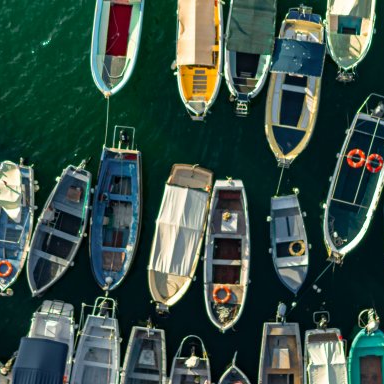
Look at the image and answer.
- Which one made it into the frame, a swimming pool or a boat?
boat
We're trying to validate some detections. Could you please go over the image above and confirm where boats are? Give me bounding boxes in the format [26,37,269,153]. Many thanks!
[345,309,384,384]
[121,310,170,384]
[172,336,212,384]
[326,0,376,79]
[0,151,35,296]
[87,0,143,101]
[174,0,222,123]
[221,365,249,384]
[203,180,251,336]
[67,296,120,384]
[11,301,79,384]
[262,0,327,167]
[27,154,93,297]
[259,307,304,384]
[305,307,348,384]
[147,163,213,313]
[324,95,384,262]
[225,0,276,115]
[269,194,310,296]
[87,126,142,295]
